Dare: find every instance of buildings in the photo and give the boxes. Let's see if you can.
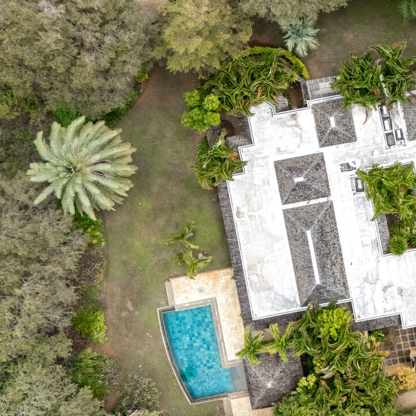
[243,347,308,410]
[218,88,416,374]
